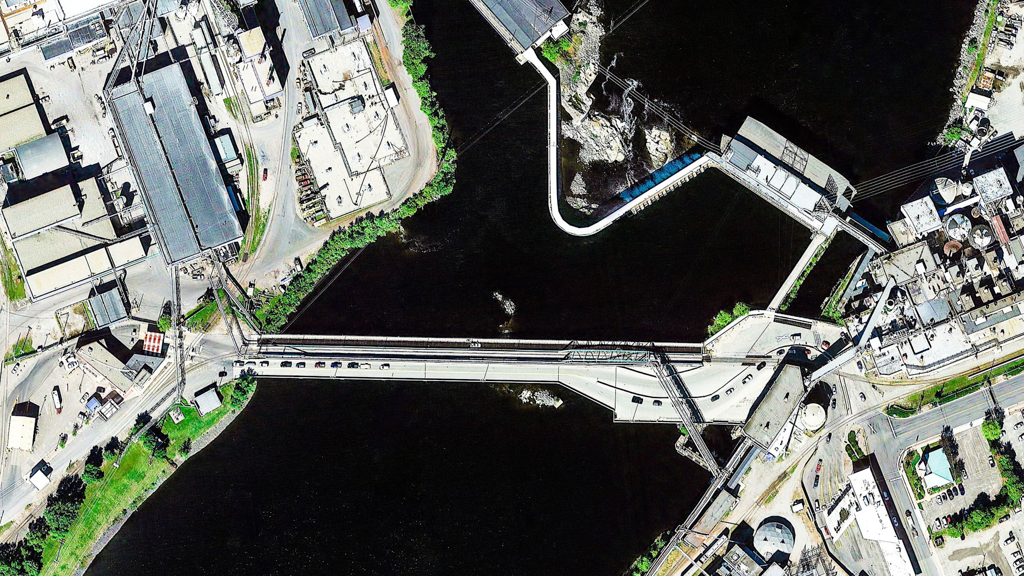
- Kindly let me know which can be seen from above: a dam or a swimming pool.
dam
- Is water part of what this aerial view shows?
Yes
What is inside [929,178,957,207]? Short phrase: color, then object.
white storage tank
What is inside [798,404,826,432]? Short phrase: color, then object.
white storage tank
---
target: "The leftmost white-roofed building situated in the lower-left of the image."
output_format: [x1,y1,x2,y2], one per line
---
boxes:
[8,415,36,451]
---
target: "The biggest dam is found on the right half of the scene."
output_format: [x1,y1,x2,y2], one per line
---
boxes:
[520,48,715,238]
